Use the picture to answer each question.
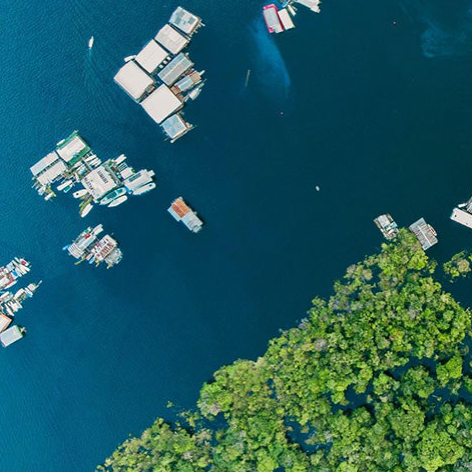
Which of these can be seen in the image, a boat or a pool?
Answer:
boat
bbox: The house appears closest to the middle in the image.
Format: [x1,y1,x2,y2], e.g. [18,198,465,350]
[172,197,205,230]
